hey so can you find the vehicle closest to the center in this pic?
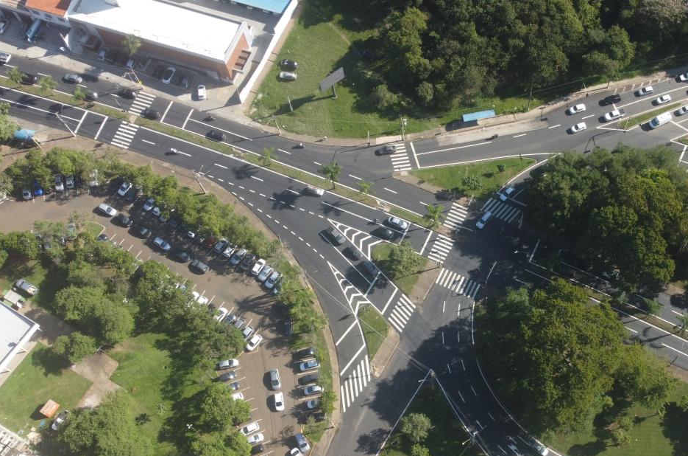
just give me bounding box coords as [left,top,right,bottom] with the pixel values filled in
[328,227,348,244]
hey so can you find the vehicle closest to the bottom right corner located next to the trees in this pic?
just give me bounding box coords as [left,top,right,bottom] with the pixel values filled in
[530,439,549,456]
